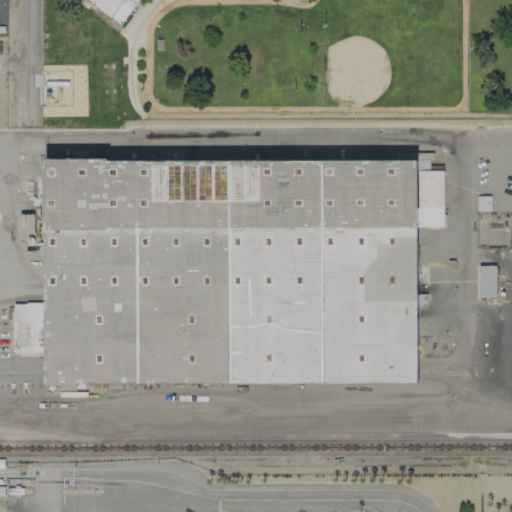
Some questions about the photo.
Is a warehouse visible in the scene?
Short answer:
Yes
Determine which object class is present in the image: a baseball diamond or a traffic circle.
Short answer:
baseball diamond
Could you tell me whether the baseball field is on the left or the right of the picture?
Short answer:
right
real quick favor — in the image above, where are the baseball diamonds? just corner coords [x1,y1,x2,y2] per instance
[327,36,392,107]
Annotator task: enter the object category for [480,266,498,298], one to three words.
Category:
building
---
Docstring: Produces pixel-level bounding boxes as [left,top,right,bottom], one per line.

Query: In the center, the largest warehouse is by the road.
[39,158,418,384]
